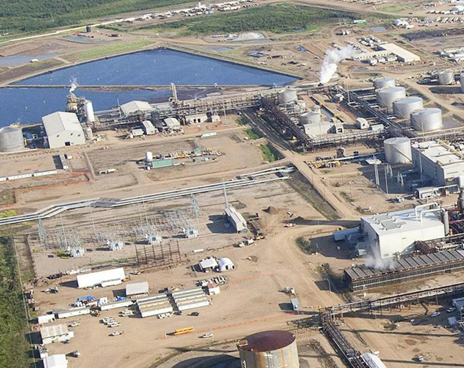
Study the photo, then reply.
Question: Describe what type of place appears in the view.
industrial area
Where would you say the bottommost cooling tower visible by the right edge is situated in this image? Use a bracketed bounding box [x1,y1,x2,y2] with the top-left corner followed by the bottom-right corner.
[344,252,464,291]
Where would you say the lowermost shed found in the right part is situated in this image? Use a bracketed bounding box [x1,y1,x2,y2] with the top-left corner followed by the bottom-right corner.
[358,340,393,368]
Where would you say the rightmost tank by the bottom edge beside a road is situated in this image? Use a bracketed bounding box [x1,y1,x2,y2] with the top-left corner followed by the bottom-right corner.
[235,327,301,368]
